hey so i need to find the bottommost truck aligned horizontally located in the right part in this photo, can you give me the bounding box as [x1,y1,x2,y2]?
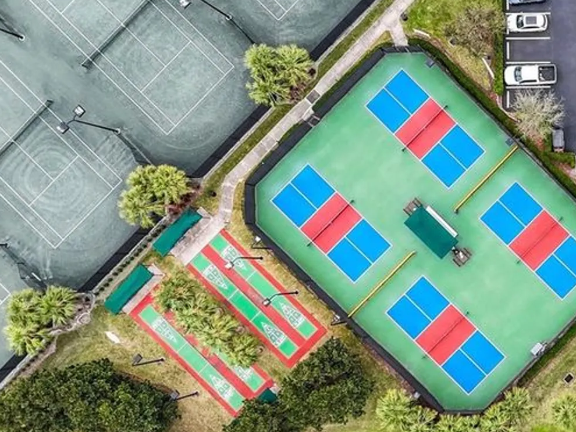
[504,63,557,86]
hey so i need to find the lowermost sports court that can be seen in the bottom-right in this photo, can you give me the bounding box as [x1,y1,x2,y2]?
[386,276,507,395]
